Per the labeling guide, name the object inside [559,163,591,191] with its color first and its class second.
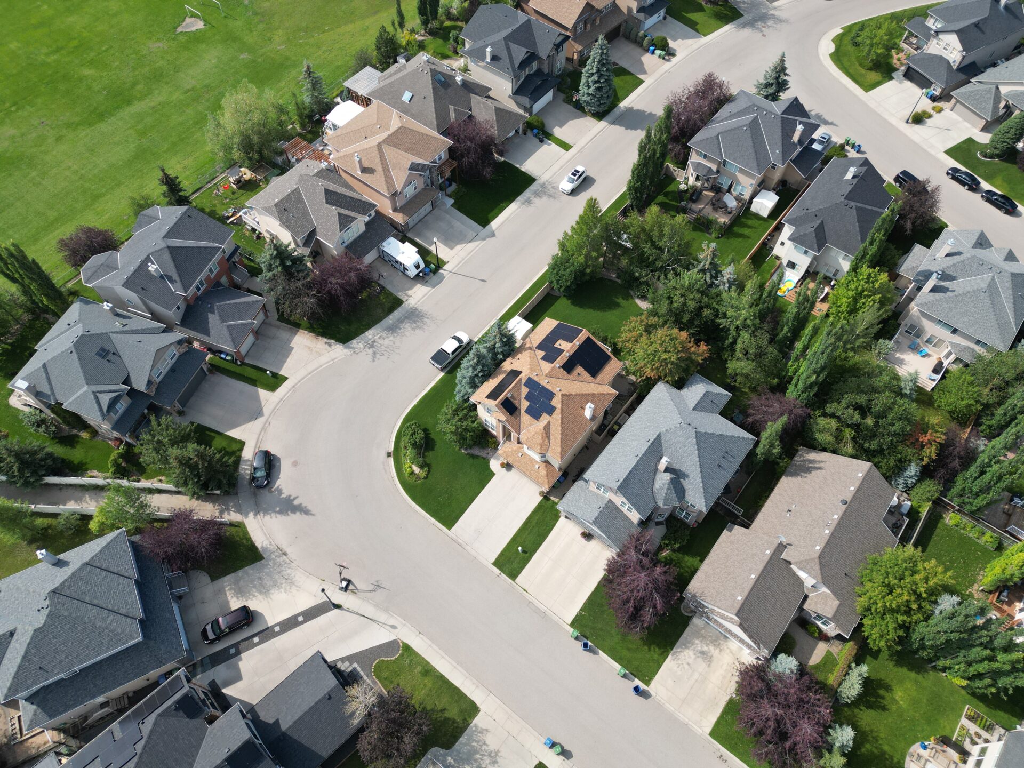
white car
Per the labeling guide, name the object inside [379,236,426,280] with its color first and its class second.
white trailer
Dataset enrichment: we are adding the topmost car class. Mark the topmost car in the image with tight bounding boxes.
[811,126,837,150]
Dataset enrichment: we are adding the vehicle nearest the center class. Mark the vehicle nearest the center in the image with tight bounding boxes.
[427,332,472,371]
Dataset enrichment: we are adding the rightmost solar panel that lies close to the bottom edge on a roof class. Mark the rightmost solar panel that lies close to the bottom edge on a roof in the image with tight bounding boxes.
[224,741,267,768]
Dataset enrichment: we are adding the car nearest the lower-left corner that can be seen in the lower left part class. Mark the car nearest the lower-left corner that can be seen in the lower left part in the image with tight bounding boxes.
[200,609,253,649]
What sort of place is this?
residential area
